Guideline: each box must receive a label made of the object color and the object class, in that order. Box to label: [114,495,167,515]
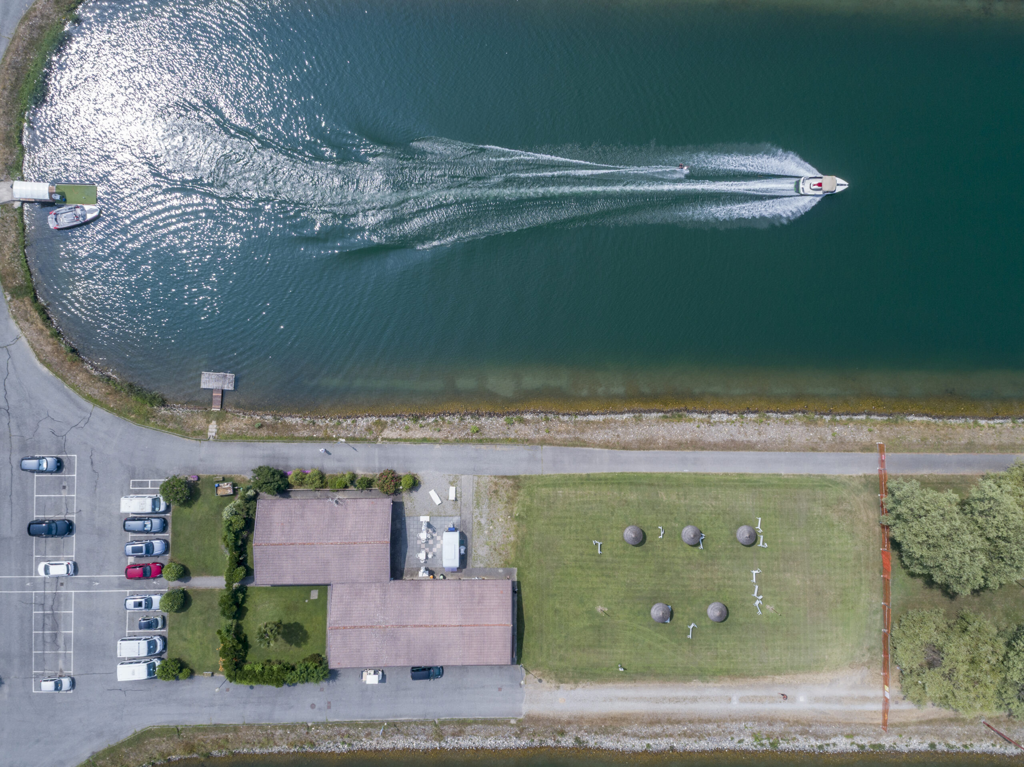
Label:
white vehicle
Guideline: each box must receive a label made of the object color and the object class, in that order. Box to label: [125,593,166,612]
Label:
white car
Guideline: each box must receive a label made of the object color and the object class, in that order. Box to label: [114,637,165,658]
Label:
white vehicle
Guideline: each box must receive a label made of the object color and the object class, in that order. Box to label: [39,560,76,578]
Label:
white car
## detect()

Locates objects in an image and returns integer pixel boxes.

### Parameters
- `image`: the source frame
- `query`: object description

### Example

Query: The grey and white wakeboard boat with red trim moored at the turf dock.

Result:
[47,204,100,229]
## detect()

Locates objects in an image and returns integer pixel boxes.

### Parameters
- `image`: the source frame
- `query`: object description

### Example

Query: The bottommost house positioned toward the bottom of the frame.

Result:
[328,579,514,669]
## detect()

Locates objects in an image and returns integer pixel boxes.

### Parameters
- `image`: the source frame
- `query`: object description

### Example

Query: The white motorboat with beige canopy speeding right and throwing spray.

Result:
[793,175,849,194]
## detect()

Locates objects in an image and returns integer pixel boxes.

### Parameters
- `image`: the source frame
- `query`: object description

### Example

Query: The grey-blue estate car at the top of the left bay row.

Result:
[20,456,63,475]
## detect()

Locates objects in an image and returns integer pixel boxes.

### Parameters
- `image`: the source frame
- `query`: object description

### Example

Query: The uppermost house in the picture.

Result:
[251,497,392,586]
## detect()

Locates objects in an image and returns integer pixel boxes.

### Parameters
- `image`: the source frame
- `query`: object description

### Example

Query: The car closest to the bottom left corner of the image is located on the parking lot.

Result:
[40,675,75,693]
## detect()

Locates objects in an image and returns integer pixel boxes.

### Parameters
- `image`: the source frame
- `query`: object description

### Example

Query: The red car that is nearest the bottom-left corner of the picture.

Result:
[125,562,163,580]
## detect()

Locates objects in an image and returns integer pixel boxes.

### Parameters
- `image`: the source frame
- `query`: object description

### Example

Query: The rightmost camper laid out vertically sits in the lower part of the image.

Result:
[442,517,460,579]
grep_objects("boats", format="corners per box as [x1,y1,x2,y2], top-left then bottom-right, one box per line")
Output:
[793,175,849,194]
[47,204,100,229]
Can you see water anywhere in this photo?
Yes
